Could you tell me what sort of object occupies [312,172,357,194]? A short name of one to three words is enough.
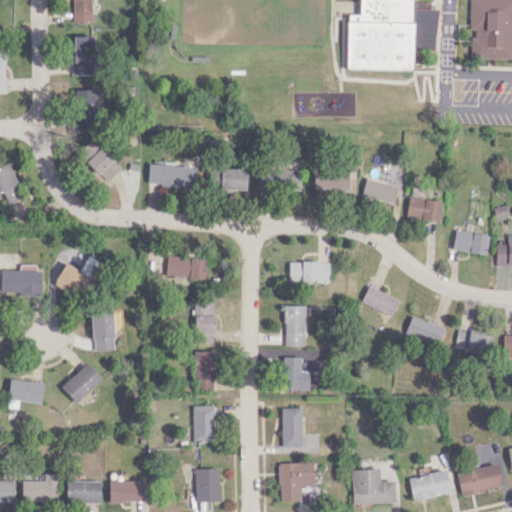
house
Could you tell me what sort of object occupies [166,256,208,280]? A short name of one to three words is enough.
house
